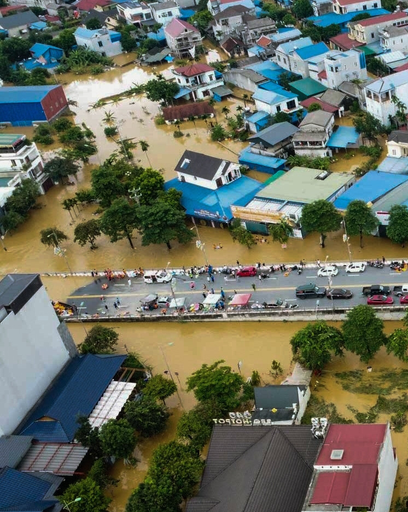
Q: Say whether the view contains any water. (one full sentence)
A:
Yes, water can be seen from above here.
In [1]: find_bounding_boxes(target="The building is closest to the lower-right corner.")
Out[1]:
[300,420,394,512]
